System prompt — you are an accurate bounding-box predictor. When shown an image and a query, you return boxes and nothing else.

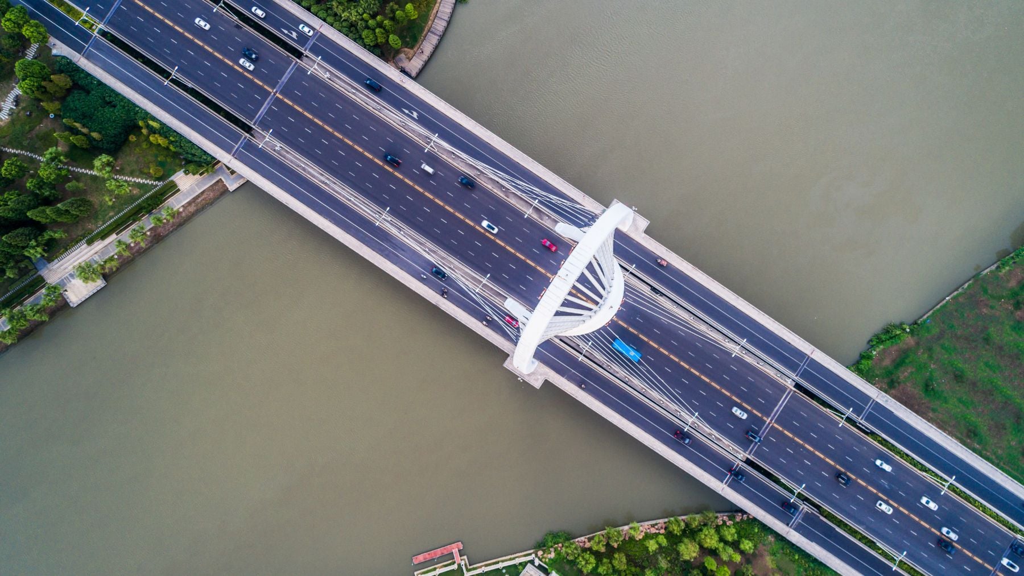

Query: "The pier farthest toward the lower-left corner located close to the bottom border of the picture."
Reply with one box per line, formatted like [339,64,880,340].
[411,541,463,568]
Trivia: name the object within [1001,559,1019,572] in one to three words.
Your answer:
vehicle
